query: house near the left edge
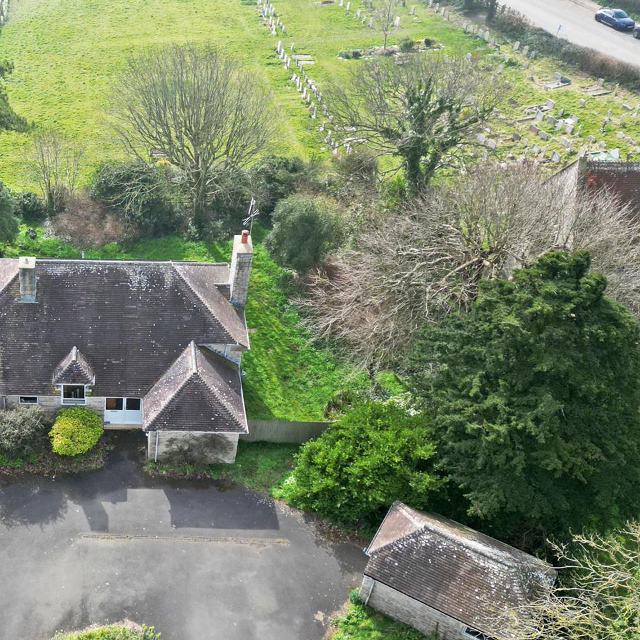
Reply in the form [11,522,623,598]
[0,225,252,461]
